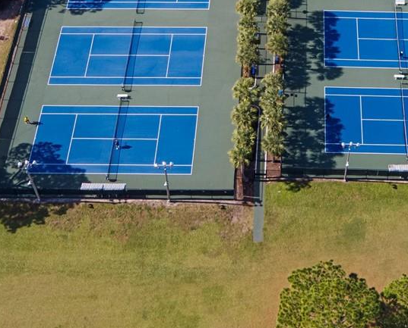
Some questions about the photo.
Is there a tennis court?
Yes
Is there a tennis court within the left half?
Yes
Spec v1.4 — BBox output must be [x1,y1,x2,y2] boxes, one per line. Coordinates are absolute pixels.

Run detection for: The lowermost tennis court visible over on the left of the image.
[27,98,199,176]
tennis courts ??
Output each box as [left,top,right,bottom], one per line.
[325,82,408,157]
[47,21,206,89]
[324,5,408,70]
[66,0,211,9]
[27,98,199,176]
